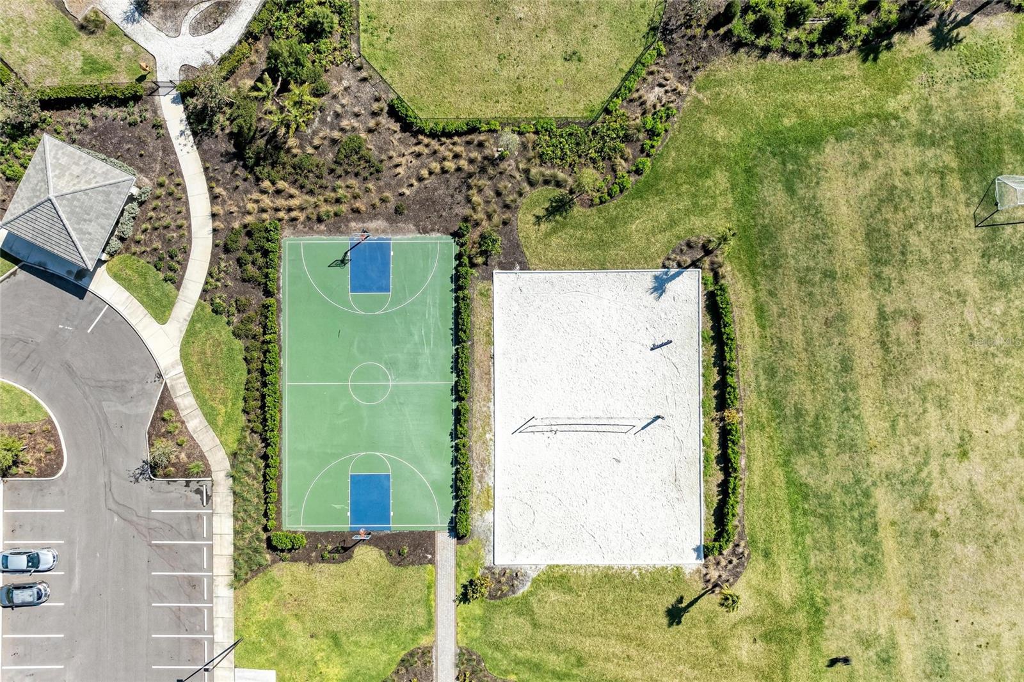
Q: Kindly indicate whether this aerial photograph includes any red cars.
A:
No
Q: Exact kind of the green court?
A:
basketball court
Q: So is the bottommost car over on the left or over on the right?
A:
left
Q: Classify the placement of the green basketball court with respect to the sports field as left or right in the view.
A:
left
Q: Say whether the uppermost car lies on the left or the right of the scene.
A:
left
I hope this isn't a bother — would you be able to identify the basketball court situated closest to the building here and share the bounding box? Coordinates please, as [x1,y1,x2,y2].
[282,236,456,531]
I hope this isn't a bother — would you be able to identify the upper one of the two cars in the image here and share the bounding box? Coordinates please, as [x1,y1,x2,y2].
[0,547,59,575]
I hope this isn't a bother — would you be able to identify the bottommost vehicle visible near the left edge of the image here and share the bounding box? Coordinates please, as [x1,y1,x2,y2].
[0,580,52,608]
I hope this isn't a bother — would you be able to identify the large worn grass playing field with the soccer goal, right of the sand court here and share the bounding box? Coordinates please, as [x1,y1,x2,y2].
[456,11,1024,682]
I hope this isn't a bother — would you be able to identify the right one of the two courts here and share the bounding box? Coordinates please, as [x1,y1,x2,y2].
[493,268,704,567]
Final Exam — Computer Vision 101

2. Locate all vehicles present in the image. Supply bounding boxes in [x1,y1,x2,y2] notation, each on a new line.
[0,580,52,608]
[0,547,59,575]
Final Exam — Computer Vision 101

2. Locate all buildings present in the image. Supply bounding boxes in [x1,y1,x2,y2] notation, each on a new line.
[0,132,140,269]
